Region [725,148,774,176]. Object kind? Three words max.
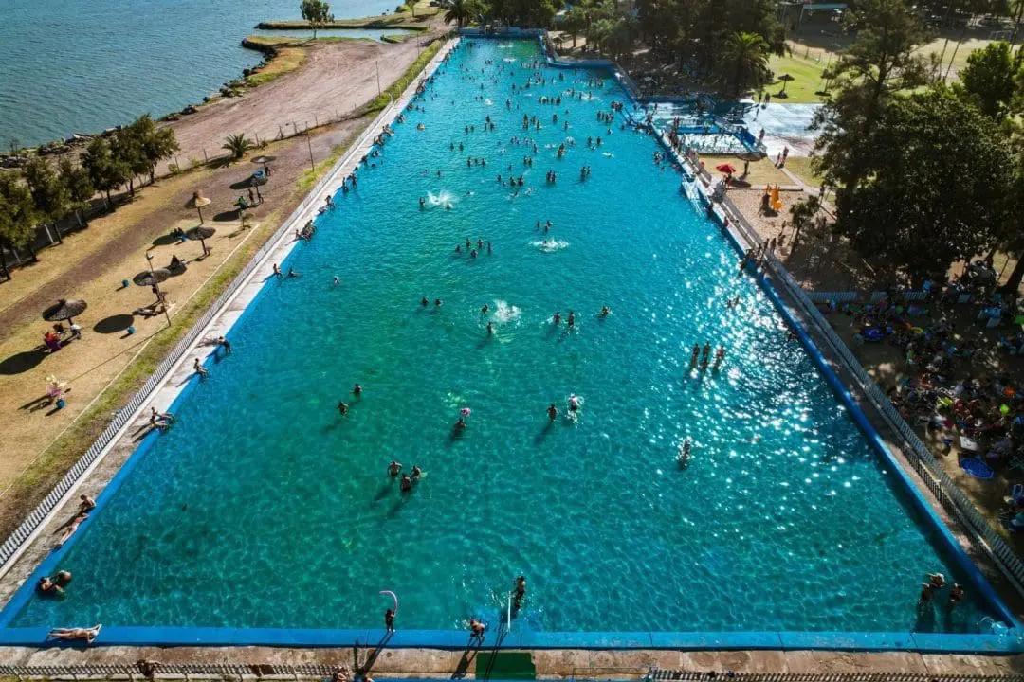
umbrella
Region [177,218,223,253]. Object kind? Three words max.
umbrella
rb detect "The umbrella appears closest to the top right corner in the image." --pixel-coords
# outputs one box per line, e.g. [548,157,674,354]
[814,67,839,90]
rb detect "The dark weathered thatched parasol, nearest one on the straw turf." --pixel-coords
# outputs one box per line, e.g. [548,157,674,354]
[28,292,92,333]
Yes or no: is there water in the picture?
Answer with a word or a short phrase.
Yes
